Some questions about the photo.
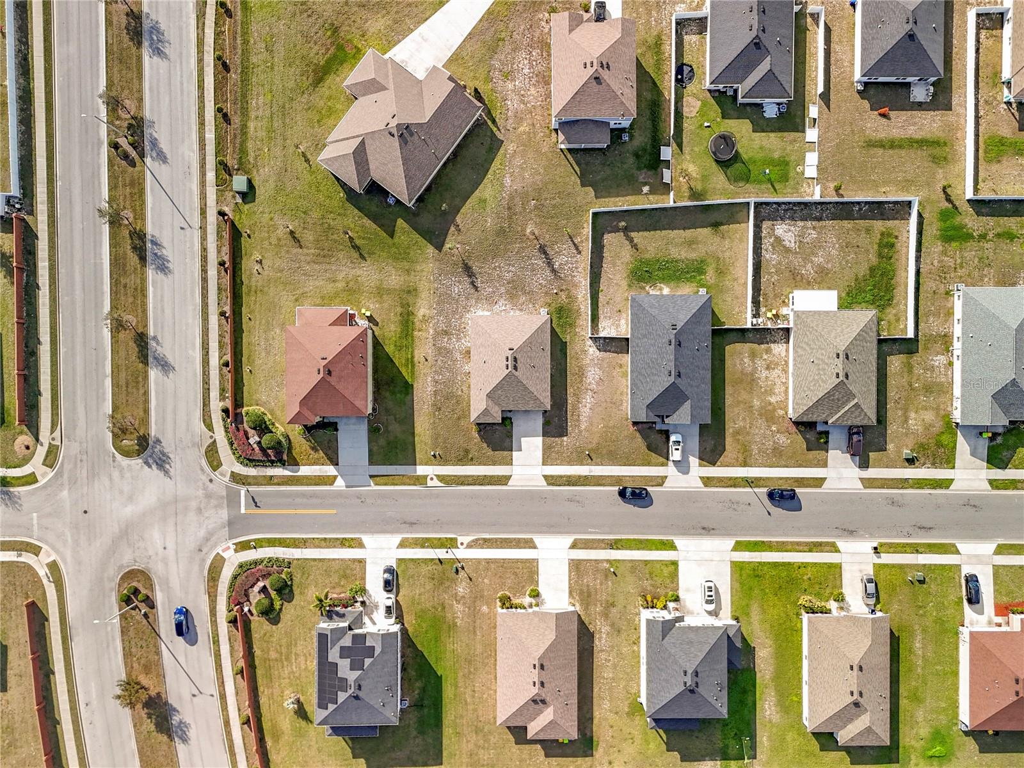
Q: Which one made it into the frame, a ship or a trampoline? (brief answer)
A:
trampoline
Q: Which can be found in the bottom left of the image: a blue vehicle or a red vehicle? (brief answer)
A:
blue vehicle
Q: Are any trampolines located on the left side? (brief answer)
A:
No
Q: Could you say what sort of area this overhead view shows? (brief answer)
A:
residential area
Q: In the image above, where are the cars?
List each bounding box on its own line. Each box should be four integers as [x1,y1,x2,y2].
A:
[765,486,795,501]
[382,562,396,590]
[669,430,684,460]
[593,0,608,22]
[383,590,397,621]
[958,570,977,602]
[172,607,190,636]
[858,572,875,603]
[847,424,864,453]
[699,576,715,607]
[617,485,647,500]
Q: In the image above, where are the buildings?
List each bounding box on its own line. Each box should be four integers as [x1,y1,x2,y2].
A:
[855,0,944,82]
[315,605,401,741]
[317,48,484,207]
[961,615,1024,730]
[496,607,578,740]
[642,609,742,732]
[789,291,877,424]
[707,0,794,103]
[629,294,712,424]
[470,315,551,423]
[286,307,372,424]
[551,8,637,145]
[952,287,1024,425]
[803,612,890,746]
[1002,0,1024,102]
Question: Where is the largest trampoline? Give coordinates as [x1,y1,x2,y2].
[707,126,739,159]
